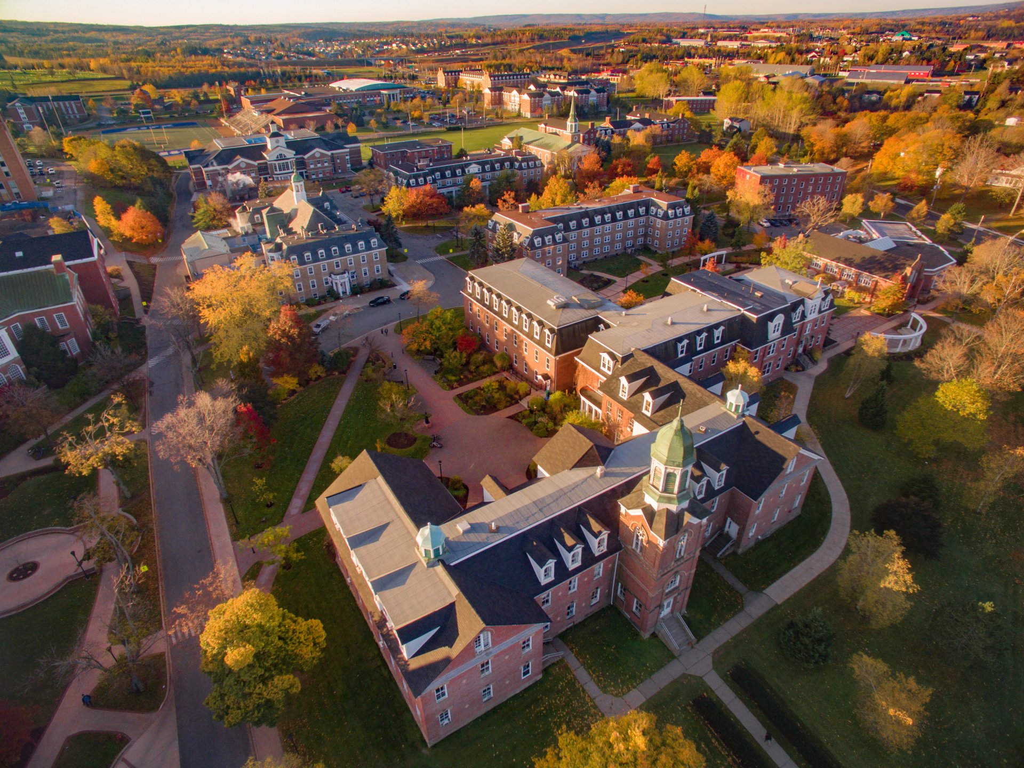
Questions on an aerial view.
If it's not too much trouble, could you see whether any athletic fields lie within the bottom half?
No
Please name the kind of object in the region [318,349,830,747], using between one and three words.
building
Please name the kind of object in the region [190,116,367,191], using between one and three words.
building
